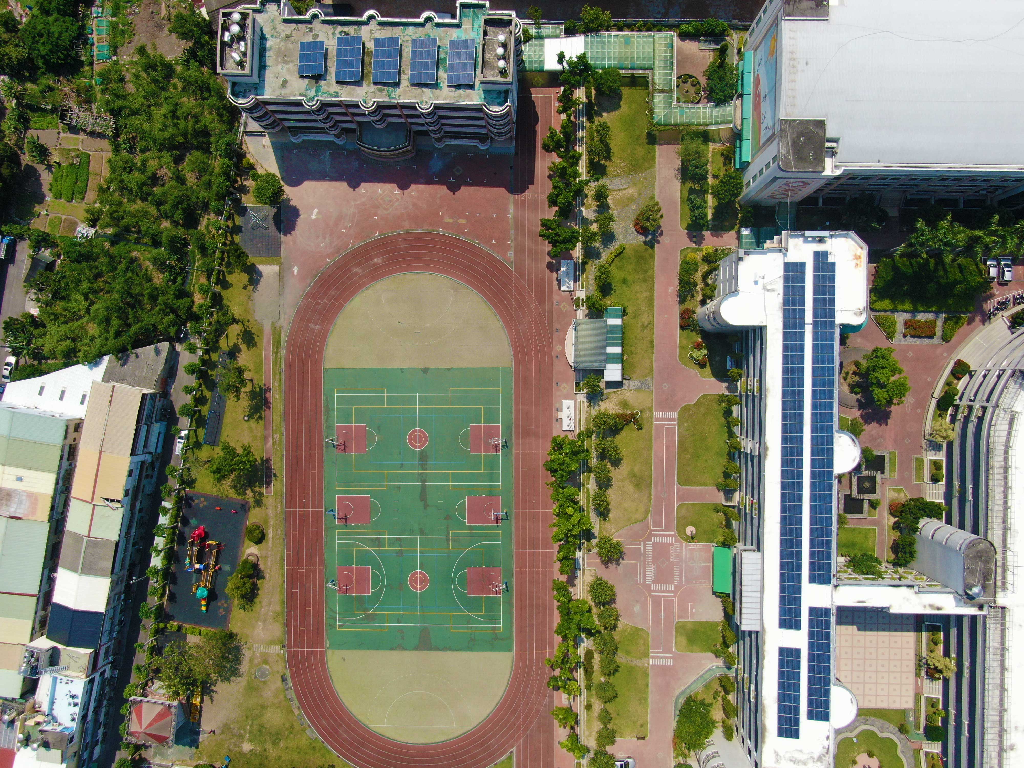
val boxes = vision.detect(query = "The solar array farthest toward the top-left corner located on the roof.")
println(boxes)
[298,40,325,77]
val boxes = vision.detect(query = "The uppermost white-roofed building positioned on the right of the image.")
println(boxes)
[723,0,1024,210]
